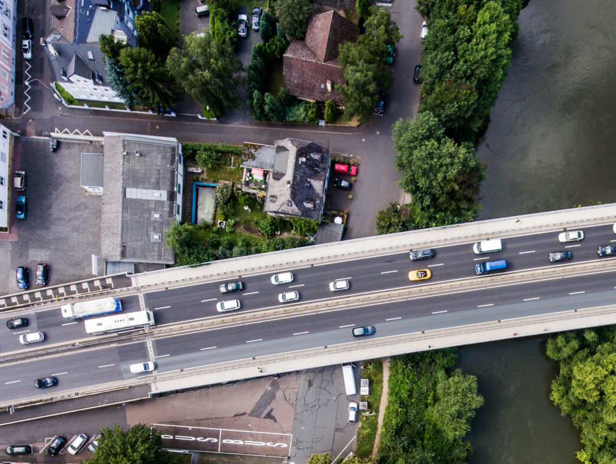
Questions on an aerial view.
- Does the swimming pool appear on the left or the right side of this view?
left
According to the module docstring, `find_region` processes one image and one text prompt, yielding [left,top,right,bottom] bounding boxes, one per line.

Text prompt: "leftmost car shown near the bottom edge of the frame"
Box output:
[5,443,33,456]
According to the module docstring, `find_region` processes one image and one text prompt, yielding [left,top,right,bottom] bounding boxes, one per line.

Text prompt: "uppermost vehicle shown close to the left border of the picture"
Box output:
[20,17,35,40]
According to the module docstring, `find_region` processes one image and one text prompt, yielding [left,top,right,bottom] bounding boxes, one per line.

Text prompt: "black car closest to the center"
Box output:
[334,177,352,190]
